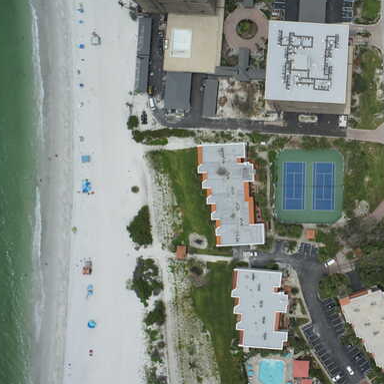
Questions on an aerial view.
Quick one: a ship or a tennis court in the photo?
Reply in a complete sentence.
It is a tennis court that can be seen here.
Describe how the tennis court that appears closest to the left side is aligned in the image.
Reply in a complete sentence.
In this picture, the tennis court that appears closest to the left side is oriented from top to bottom.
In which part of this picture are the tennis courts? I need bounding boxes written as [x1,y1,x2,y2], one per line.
[274,149,309,223]
[309,148,344,223]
